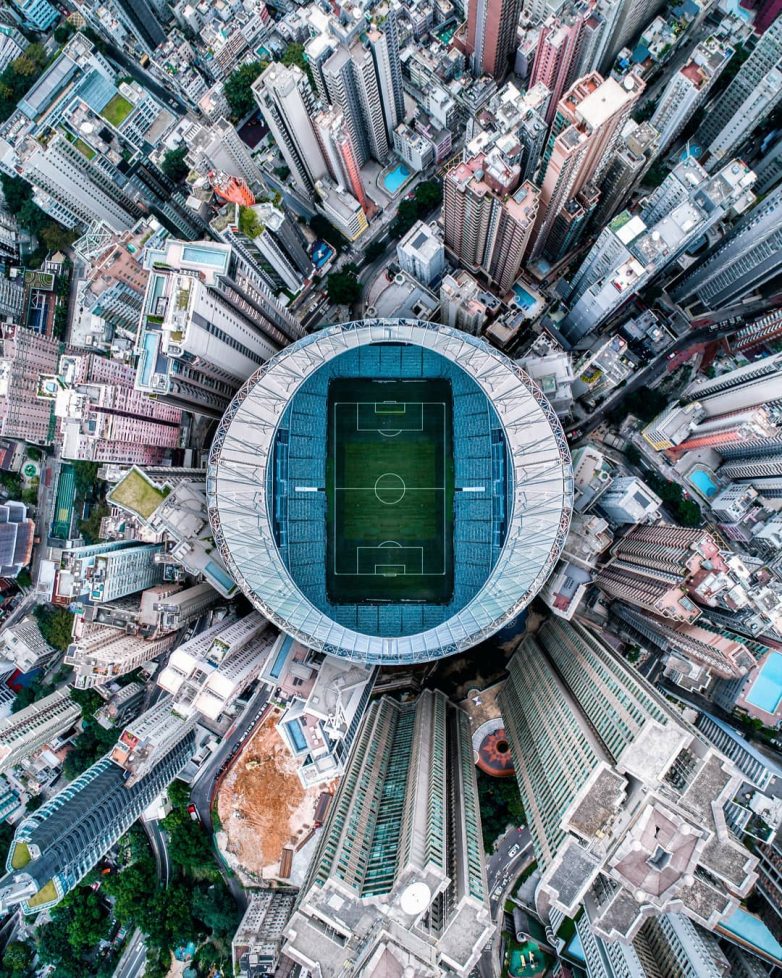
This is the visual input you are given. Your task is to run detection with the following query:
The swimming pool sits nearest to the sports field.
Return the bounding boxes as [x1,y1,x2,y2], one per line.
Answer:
[268,636,293,679]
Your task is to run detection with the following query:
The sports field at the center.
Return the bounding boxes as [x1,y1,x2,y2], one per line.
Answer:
[328,373,455,603]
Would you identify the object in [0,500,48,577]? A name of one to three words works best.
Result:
building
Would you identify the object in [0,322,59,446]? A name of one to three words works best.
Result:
building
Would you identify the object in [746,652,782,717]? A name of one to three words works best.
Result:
swimming pool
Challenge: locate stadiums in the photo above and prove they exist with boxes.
[206,318,572,666]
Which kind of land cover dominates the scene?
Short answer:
buildings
